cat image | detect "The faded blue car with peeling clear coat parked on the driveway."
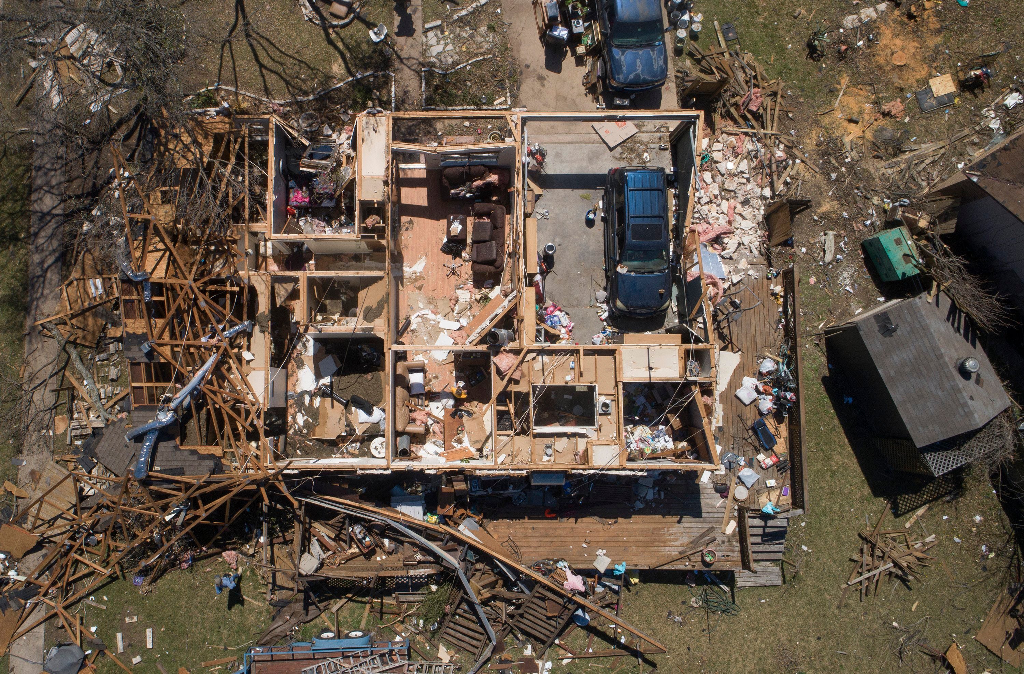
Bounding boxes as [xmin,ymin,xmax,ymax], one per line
[606,0,673,98]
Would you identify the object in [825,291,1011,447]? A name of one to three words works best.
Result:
shed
